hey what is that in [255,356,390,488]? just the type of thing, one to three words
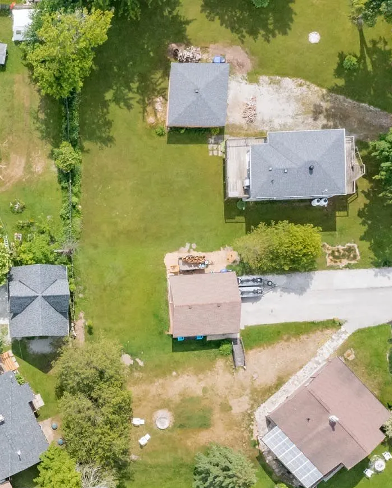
house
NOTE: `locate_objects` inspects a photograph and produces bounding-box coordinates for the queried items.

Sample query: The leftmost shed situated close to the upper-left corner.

[11,8,37,49]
